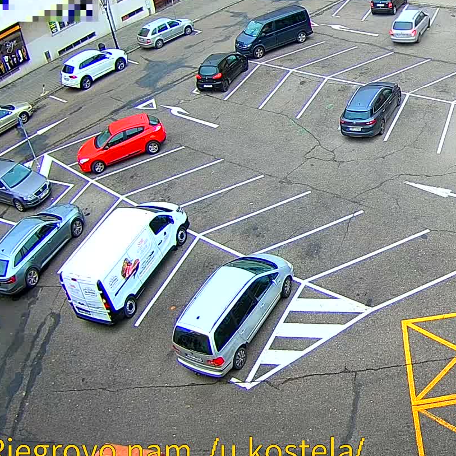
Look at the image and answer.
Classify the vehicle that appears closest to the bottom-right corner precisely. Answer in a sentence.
It turns out the vehicle that appears closest to the bottom-right corner is an automobile.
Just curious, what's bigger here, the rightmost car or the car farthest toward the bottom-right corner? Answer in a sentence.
The car farthest toward the bottom-right corner covers a greater area than the rightmost car.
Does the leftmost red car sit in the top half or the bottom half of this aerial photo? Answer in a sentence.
The leftmost red car is in the top half of the image.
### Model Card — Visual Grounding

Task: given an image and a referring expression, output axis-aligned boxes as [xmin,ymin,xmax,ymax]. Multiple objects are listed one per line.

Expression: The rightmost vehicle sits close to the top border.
[389,11,430,42]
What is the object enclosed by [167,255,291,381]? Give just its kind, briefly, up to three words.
car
